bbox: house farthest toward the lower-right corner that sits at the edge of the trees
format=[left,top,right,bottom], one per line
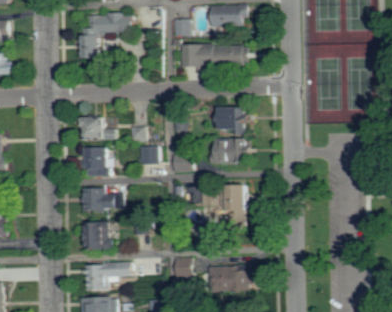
[208,266,252,292]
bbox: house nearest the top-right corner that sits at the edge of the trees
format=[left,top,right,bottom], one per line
[208,4,248,27]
